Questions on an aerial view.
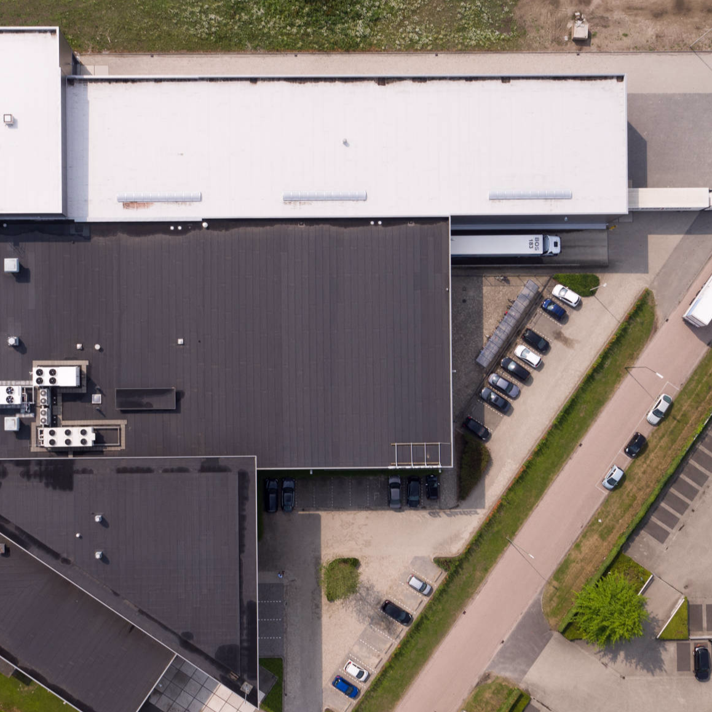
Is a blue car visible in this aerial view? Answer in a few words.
Yes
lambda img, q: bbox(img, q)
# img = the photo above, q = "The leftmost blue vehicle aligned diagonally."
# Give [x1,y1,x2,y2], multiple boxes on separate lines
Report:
[330,676,360,699]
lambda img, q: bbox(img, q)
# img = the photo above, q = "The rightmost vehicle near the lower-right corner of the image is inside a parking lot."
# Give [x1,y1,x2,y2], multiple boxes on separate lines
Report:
[694,647,712,680]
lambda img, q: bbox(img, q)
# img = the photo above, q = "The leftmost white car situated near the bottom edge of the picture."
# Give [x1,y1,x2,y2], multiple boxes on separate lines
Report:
[342,660,370,682]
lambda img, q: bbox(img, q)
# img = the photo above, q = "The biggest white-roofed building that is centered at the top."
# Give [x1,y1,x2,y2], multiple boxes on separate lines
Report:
[64,74,629,231]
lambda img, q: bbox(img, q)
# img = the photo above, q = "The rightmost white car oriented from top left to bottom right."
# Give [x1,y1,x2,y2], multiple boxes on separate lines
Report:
[551,284,584,310]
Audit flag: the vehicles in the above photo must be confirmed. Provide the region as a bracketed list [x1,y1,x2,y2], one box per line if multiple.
[479,387,511,413]
[425,476,439,500]
[628,188,712,212]
[694,647,712,680]
[551,284,584,310]
[683,273,712,327]
[647,394,674,425]
[489,374,521,399]
[406,574,432,597]
[624,431,648,458]
[520,329,550,353]
[342,660,370,682]
[539,298,570,321]
[501,358,532,382]
[387,476,402,509]
[462,416,492,440]
[330,676,360,699]
[512,345,544,369]
[602,464,624,490]
[381,600,413,626]
[406,477,422,509]
[450,237,560,259]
